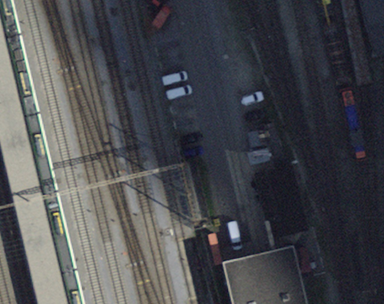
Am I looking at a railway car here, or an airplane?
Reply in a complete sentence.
Looking from above, you can make out a railway car.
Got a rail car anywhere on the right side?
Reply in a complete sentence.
Yes, you'll find a rail car on the right side.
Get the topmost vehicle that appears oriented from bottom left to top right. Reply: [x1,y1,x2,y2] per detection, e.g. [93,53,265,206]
[152,6,170,30]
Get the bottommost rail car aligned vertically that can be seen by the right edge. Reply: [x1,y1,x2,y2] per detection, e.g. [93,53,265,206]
[340,88,366,164]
